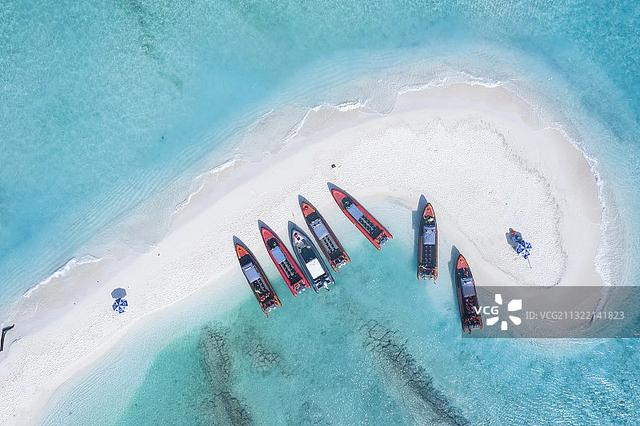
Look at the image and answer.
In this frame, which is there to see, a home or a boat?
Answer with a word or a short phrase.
boat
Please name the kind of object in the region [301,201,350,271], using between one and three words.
boat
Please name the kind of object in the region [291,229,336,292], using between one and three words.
boat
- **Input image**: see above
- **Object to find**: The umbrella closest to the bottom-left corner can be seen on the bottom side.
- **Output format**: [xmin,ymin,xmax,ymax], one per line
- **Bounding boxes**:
[111,296,129,315]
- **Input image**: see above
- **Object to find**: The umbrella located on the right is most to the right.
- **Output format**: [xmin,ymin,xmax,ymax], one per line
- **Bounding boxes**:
[515,240,534,259]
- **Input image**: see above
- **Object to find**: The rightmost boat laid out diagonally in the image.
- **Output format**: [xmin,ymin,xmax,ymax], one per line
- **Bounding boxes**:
[331,189,391,249]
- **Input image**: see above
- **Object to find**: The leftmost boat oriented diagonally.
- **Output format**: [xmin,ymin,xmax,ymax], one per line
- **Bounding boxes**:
[234,245,281,315]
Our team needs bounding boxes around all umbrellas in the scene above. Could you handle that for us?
[111,296,129,315]
[515,240,534,259]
